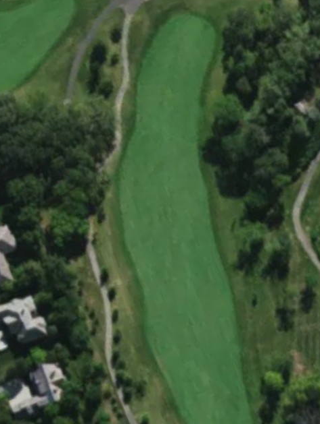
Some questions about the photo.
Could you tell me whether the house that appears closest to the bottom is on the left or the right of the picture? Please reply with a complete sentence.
The house that appears closest to the bottom is on the left side of the image.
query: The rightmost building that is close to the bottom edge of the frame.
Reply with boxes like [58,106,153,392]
[29,360,69,407]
